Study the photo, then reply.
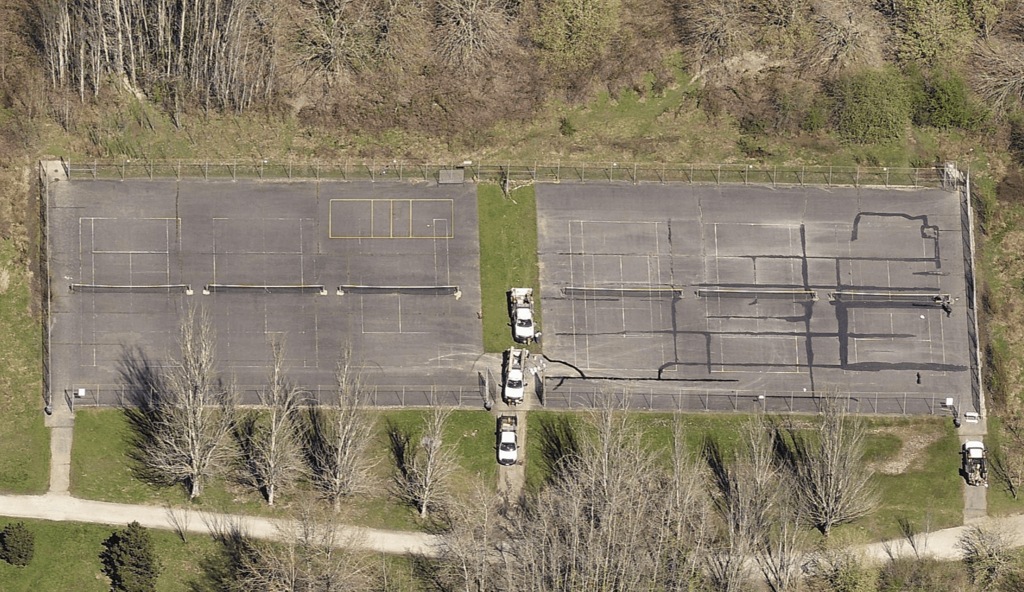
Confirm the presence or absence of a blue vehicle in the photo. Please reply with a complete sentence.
No, this view has no blue vehicle in it.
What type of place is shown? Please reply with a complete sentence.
The picture captures a sports ground.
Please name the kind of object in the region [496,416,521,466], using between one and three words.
truck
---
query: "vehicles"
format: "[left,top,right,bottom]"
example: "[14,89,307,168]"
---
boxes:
[512,291,537,345]
[963,443,988,489]
[496,416,521,466]
[504,351,528,406]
